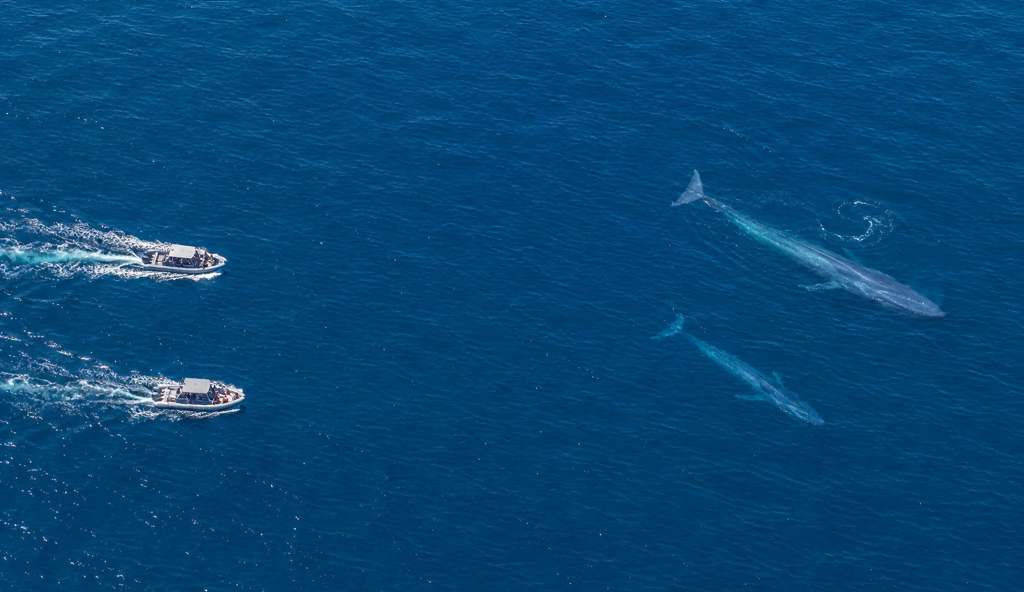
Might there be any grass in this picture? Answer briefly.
No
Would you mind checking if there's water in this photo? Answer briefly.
Yes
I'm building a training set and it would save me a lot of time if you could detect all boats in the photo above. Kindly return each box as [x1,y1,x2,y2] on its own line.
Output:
[141,239,226,271]
[152,373,244,408]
